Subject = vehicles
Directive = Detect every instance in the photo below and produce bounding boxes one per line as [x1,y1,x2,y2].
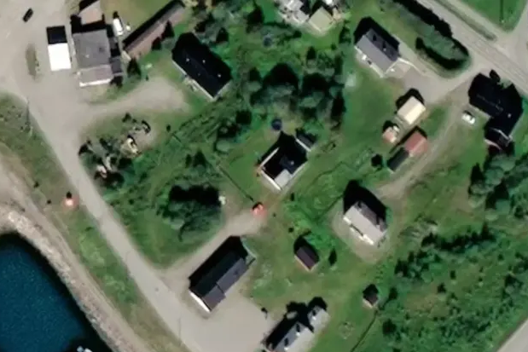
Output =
[22,9,32,21]
[463,113,474,123]
[112,19,121,36]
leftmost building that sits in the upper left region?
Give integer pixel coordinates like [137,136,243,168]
[46,43,71,76]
